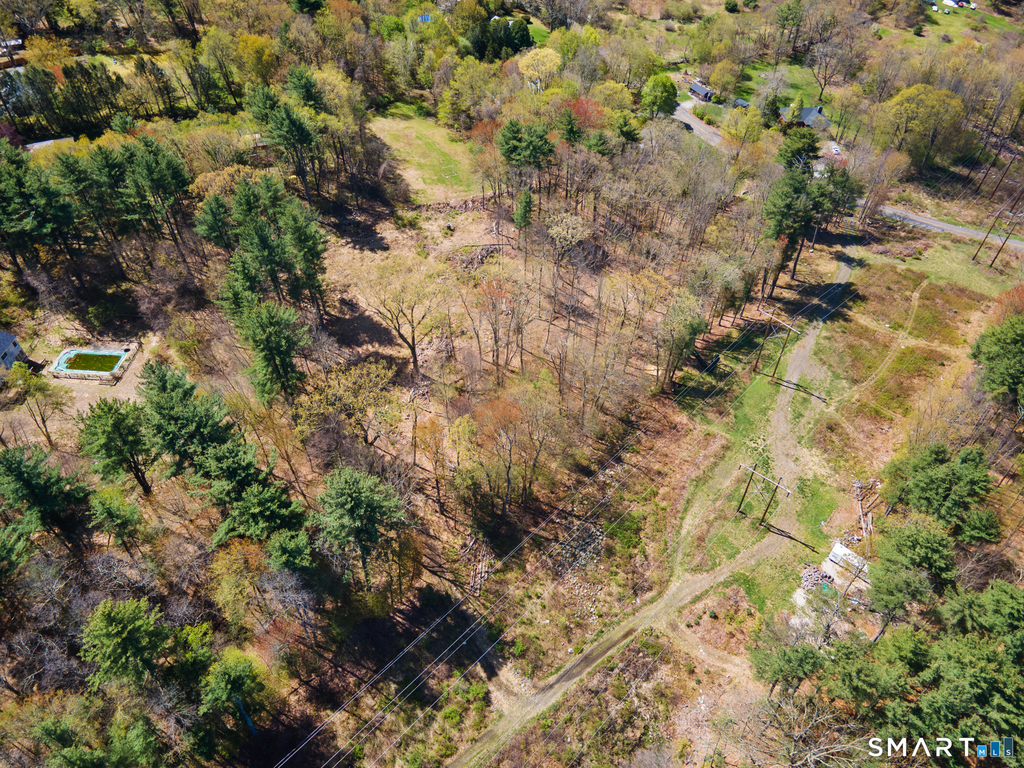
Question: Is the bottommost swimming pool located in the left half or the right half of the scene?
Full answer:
The bottommost swimming pool sits on the left side.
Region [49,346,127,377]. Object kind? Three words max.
swimming pool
